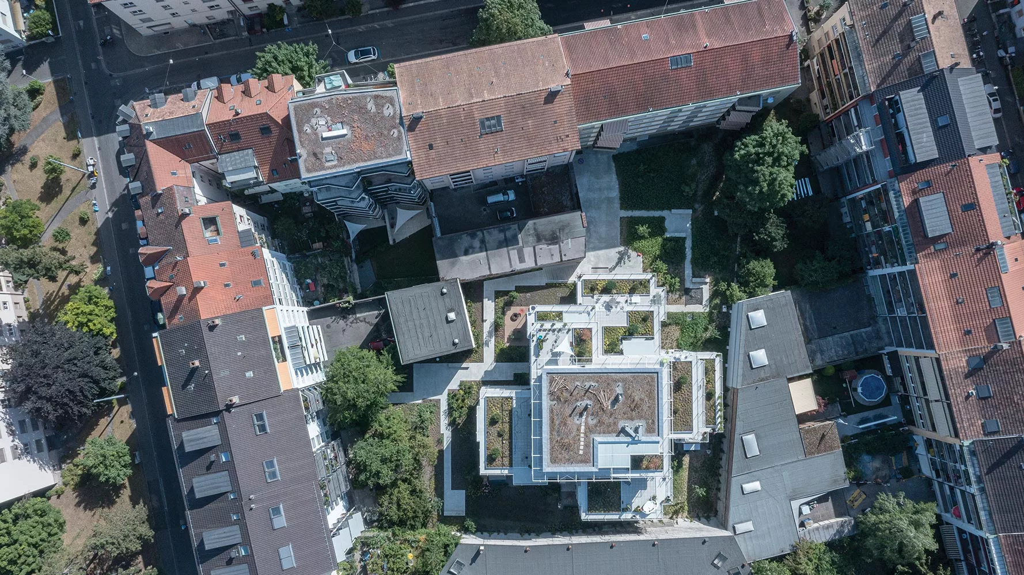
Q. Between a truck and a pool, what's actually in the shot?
pool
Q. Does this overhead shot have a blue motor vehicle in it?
Yes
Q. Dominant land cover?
buildings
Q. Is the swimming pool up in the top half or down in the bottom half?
bottom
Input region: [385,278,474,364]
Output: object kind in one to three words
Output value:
building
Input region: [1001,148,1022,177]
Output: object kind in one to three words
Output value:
car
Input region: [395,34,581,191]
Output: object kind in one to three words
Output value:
house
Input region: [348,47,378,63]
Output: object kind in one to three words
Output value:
car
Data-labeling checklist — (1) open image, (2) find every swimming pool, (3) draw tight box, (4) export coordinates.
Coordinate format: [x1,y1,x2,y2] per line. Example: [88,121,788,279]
[853,370,887,403]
